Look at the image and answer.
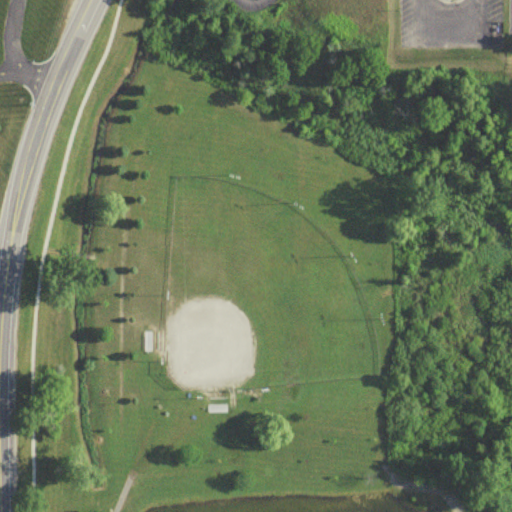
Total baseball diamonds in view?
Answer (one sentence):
Altogether the scene contains 1 baseball diamond.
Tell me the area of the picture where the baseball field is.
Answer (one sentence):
You can find the baseball field in the center area of the picture.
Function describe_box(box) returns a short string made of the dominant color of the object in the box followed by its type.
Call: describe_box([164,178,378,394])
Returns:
green baseball field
